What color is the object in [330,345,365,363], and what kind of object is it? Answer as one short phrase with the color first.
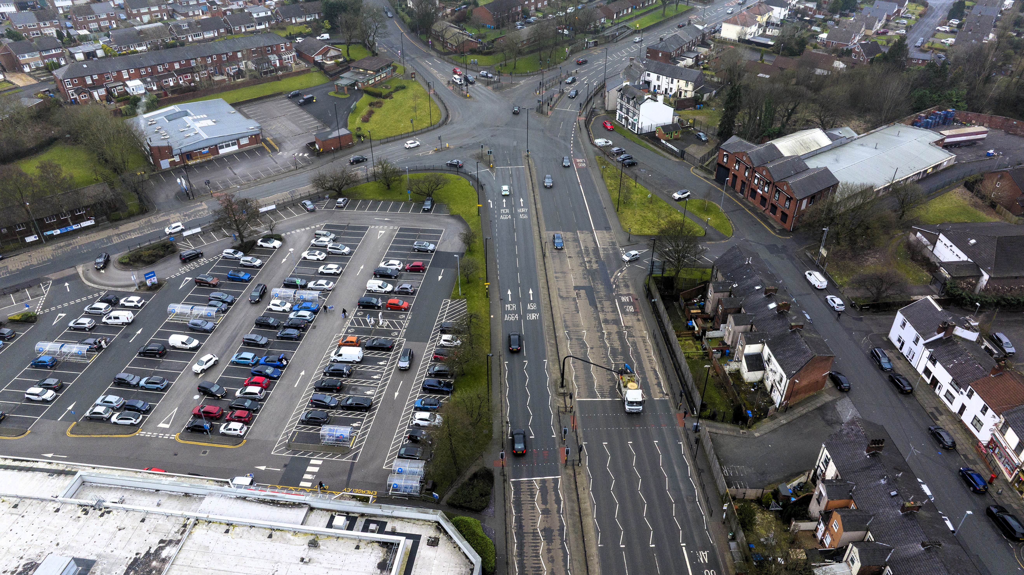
white vehicle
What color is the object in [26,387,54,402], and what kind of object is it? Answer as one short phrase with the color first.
white car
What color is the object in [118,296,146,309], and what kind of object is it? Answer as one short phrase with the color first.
white vehicle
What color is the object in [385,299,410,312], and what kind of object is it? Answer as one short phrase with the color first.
red vehicle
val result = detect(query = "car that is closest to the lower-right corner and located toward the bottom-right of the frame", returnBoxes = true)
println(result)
[988,508,1024,541]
